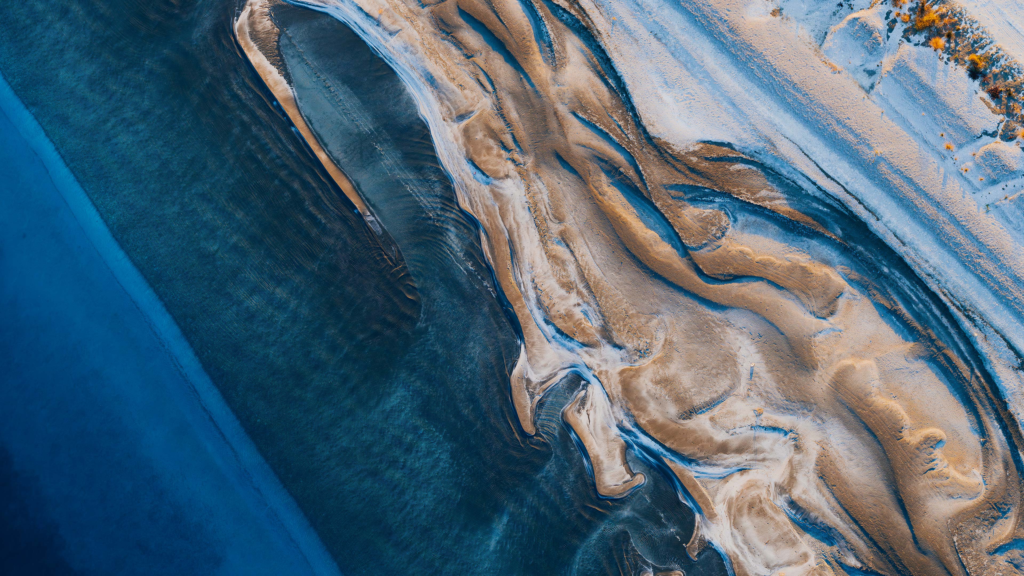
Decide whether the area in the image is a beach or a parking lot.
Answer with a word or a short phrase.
beach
